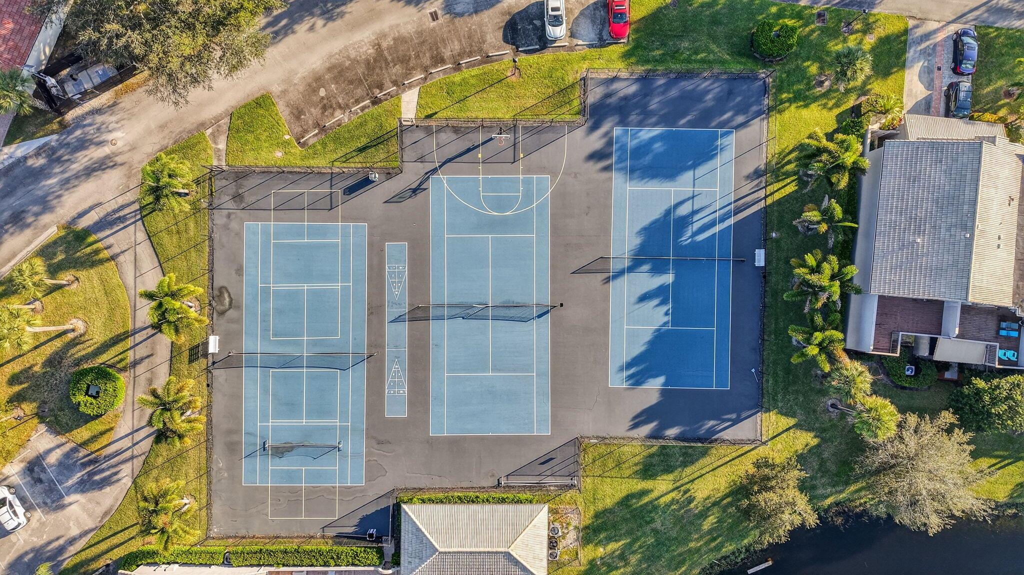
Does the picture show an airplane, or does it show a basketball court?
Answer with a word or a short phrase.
basketball court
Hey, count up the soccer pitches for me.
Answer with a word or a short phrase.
0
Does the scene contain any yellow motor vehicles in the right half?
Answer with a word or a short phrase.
No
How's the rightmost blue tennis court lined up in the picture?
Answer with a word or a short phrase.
up and down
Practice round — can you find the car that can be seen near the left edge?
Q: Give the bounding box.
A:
[0,485,30,535]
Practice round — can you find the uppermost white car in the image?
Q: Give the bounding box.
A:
[543,0,568,40]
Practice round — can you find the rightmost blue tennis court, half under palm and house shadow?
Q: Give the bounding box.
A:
[609,128,735,389]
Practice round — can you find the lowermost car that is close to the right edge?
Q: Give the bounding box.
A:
[947,76,976,119]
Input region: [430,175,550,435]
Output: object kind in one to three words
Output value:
tennis court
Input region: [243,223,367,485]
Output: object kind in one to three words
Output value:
tennis court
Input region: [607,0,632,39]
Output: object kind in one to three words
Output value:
car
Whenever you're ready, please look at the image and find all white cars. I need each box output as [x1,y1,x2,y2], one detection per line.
[543,0,568,40]
[0,485,30,535]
